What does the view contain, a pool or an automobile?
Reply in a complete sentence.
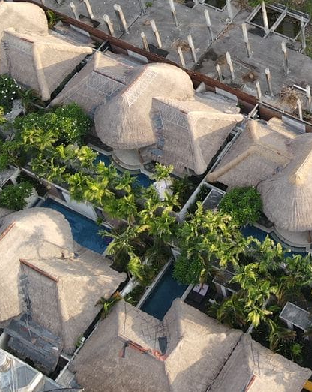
The one in the frame is a pool.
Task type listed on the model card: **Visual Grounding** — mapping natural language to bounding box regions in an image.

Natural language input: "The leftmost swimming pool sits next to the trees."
[36,195,107,257]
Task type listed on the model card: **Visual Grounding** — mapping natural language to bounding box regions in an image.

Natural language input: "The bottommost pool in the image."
[134,258,202,322]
